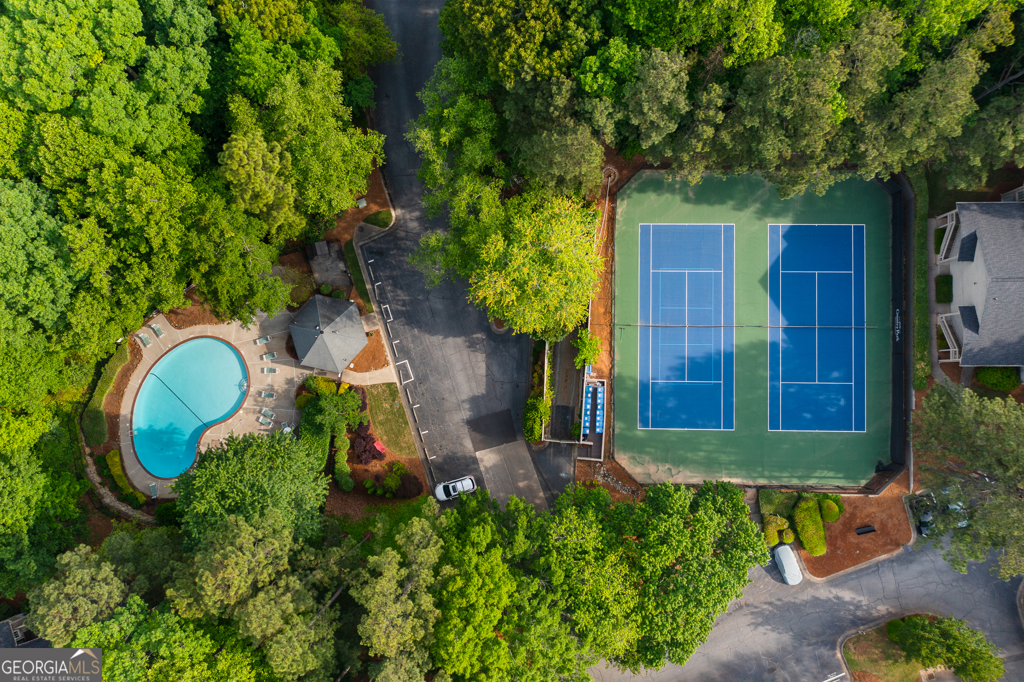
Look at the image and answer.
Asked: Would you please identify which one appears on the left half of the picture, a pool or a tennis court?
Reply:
pool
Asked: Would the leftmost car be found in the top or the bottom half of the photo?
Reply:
bottom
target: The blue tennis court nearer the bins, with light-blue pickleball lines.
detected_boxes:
[614,171,751,485]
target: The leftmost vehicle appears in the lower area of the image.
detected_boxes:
[434,475,478,500]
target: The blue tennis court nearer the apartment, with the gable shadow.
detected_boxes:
[751,173,891,486]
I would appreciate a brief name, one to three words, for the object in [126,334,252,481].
swimming pool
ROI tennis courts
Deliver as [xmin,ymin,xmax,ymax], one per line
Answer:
[614,171,751,485]
[751,173,891,486]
